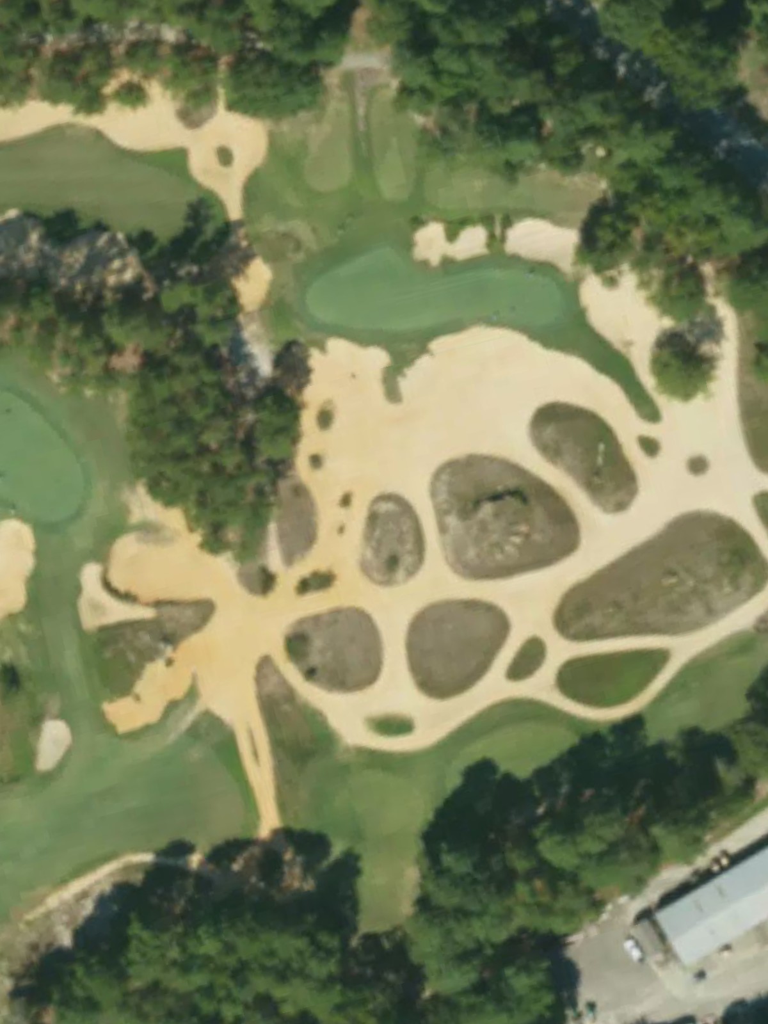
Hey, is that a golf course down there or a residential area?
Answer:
golf course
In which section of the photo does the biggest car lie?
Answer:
bottom right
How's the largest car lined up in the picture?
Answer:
on a diagonal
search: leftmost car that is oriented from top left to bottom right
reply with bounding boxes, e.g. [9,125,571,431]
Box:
[620,936,645,965]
